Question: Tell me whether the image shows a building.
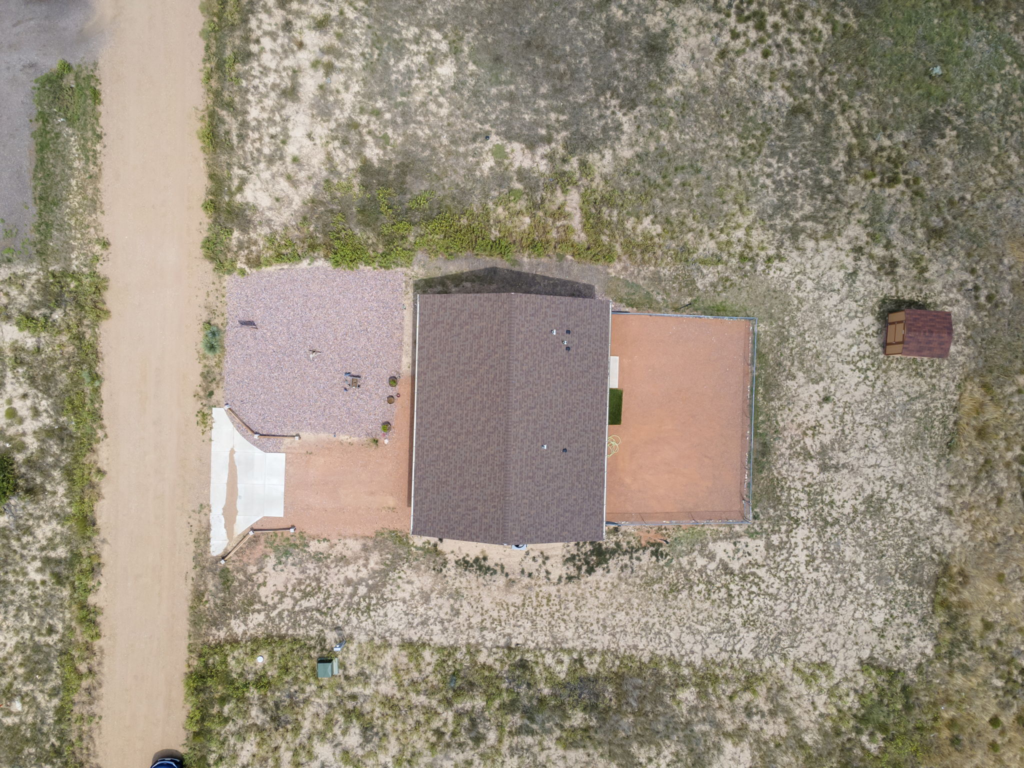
Yes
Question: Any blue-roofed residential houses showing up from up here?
No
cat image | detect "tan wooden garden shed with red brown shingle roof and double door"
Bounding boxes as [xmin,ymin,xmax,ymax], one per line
[886,310,957,356]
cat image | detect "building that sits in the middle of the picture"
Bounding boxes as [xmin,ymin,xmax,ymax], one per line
[410,292,621,546]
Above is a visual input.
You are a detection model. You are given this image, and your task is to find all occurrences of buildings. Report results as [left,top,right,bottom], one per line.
[886,310,957,356]
[410,292,621,546]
